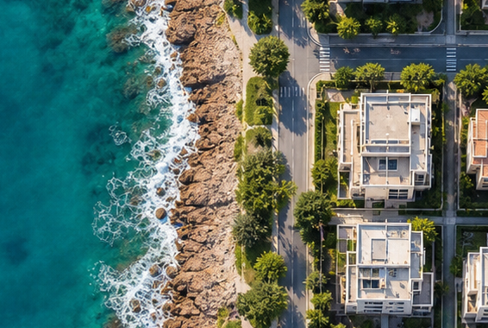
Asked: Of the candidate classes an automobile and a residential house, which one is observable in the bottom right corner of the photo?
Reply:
residential house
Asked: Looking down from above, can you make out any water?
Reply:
Yes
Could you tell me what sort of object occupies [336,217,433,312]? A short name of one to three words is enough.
house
